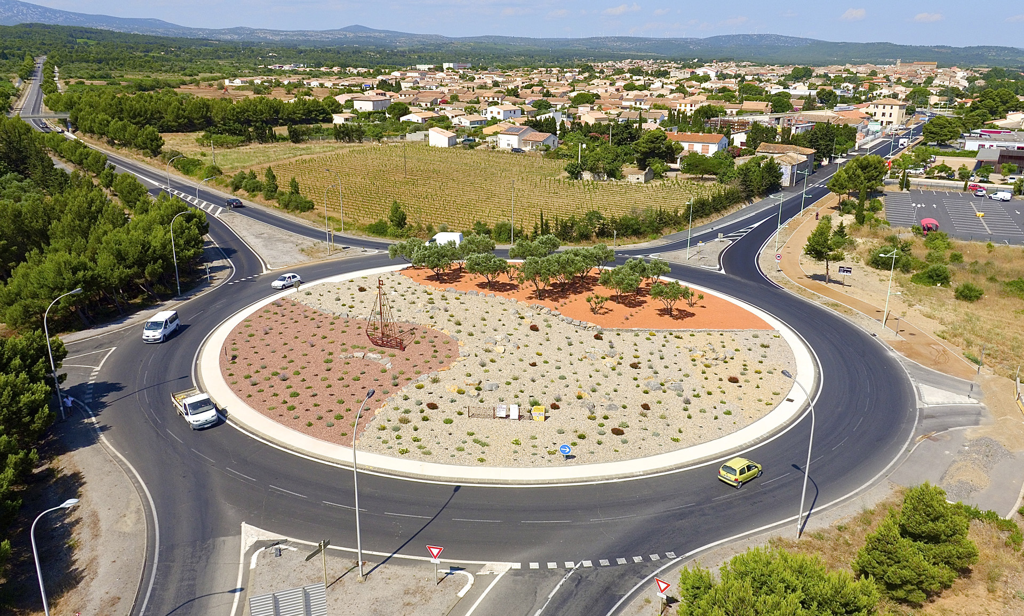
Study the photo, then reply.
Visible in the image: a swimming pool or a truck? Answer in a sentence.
This aerial view contains a truck.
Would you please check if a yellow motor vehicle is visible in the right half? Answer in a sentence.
Yes, a yellow motor vehicle can be seen in the right half.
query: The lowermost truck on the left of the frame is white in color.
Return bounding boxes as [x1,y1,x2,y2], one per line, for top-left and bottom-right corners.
[172,391,219,430]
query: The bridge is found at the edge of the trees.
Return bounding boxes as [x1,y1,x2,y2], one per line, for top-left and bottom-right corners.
[0,110,80,133]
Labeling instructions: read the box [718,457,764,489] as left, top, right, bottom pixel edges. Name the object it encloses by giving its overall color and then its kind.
yellow car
